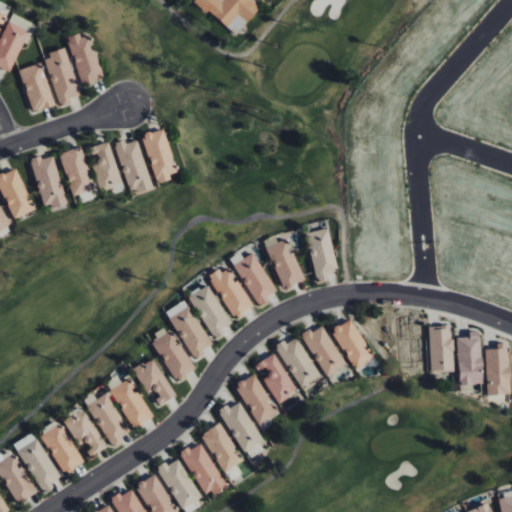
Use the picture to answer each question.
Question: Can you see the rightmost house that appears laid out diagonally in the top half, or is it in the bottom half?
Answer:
bottom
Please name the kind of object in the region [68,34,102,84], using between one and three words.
house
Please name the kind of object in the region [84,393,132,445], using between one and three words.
house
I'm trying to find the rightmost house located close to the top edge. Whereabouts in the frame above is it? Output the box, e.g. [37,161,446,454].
[194,0,264,34]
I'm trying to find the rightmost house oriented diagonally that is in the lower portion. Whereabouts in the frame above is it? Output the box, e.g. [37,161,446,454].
[333,318,375,369]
